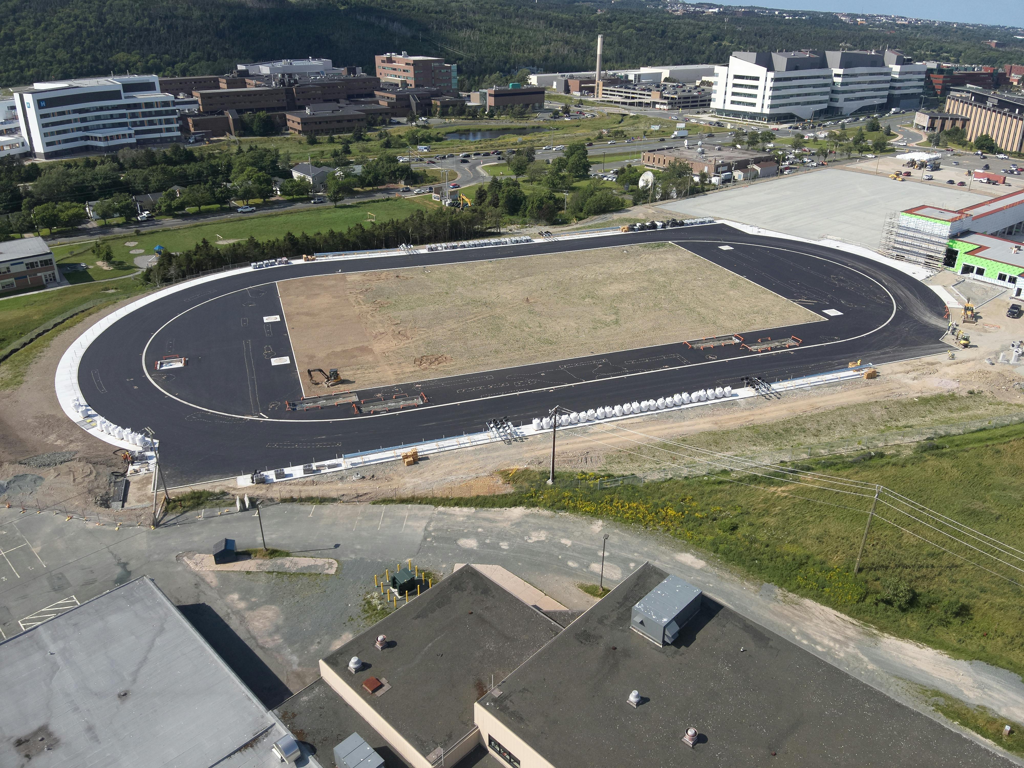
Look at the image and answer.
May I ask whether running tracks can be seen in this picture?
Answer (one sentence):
Yes, looking at the shot, I can spot a running track.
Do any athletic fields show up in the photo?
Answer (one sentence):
Yes, there's an athletic field here.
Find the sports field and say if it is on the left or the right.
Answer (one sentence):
The sports field appears in the left half of the scene.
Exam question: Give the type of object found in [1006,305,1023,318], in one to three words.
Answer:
vehicle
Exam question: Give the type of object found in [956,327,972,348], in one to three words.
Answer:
work vehicle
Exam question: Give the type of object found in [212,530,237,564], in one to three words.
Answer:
shed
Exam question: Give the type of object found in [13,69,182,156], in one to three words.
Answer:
building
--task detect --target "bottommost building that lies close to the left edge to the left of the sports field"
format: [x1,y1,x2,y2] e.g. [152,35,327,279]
[0,235,56,295]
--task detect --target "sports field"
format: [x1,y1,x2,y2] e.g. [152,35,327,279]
[51,187,485,281]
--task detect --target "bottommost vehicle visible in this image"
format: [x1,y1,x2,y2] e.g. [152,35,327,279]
[303,364,344,387]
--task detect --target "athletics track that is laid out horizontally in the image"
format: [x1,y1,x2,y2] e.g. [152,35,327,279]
[75,223,957,489]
